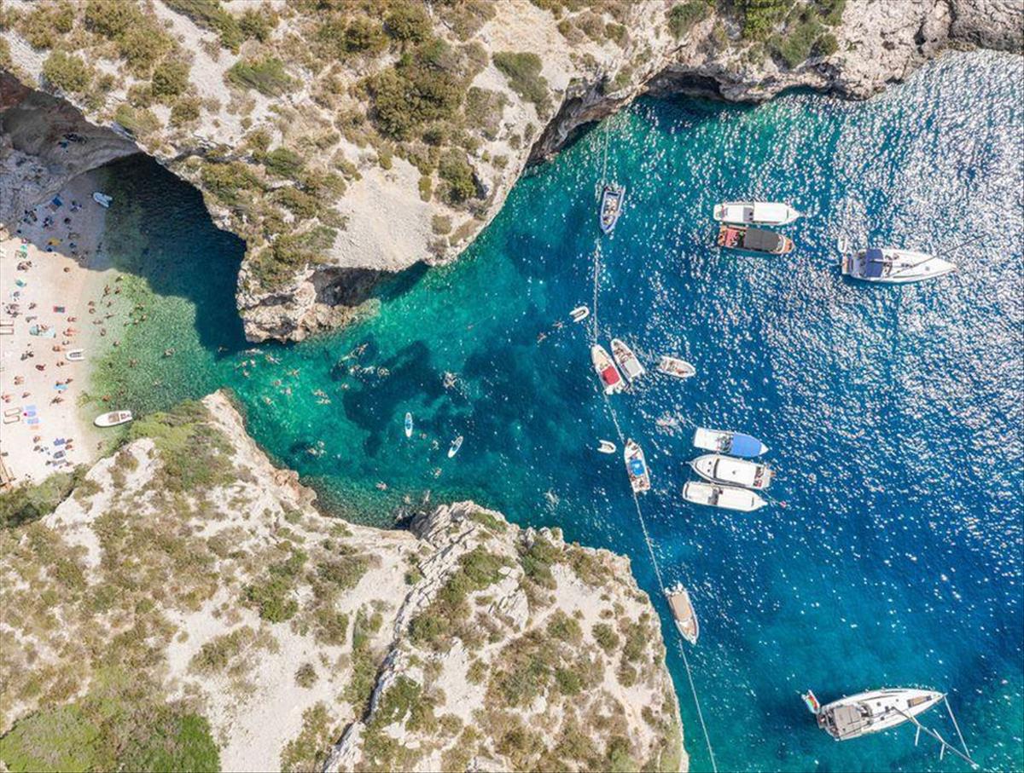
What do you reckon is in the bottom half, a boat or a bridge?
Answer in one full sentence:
The one visible in the bottom half is a boat.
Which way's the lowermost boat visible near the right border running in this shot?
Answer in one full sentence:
The lowermost boat visible near the right border is oriented horizontally.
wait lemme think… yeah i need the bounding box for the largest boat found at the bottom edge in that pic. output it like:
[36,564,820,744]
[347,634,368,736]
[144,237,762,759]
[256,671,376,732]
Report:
[802,692,978,767]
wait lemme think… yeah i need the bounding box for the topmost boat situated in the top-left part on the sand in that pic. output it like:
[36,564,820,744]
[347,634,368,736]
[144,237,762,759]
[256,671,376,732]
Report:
[93,190,116,209]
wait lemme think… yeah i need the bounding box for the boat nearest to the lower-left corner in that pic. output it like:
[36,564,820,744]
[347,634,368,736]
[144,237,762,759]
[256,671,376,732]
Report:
[94,408,138,425]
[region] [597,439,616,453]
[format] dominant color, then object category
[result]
white boat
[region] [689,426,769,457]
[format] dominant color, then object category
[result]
white boat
